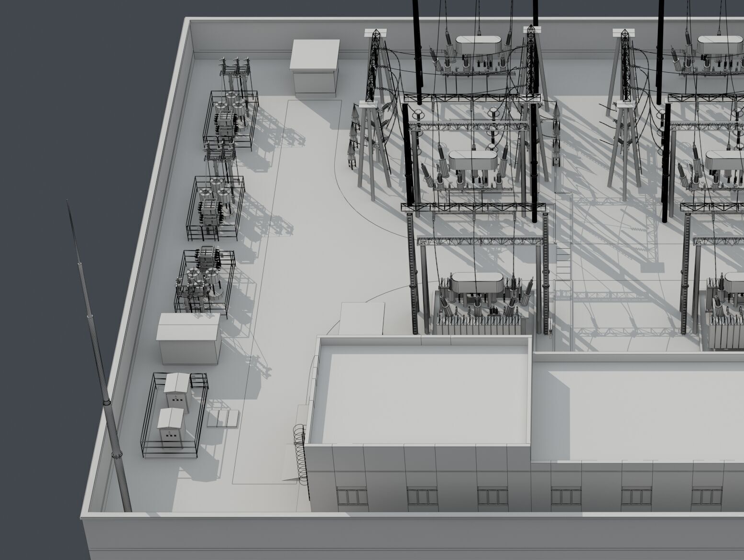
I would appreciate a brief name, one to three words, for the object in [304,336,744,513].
building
